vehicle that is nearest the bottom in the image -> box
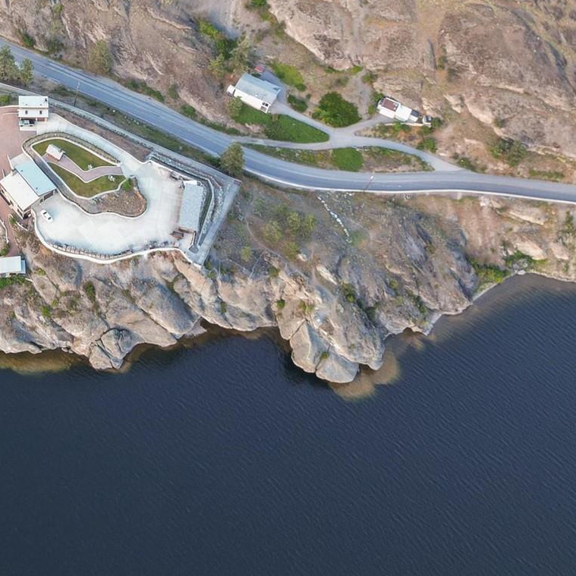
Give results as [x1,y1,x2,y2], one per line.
[40,209,53,223]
